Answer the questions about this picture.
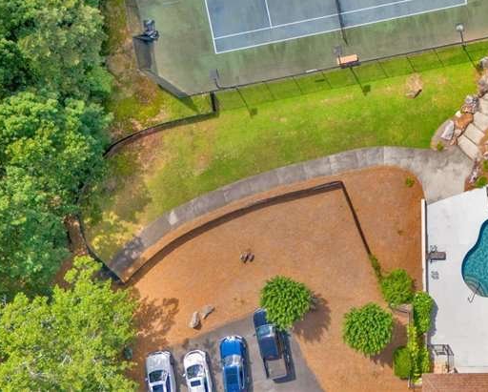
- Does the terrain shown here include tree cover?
Yes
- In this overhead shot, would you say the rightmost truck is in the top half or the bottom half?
bottom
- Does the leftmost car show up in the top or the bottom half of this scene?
bottom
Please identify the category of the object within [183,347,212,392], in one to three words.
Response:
car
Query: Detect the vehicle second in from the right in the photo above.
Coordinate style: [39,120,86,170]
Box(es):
[219,334,248,392]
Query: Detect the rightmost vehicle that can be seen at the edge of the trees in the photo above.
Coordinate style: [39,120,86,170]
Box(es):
[252,308,288,380]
